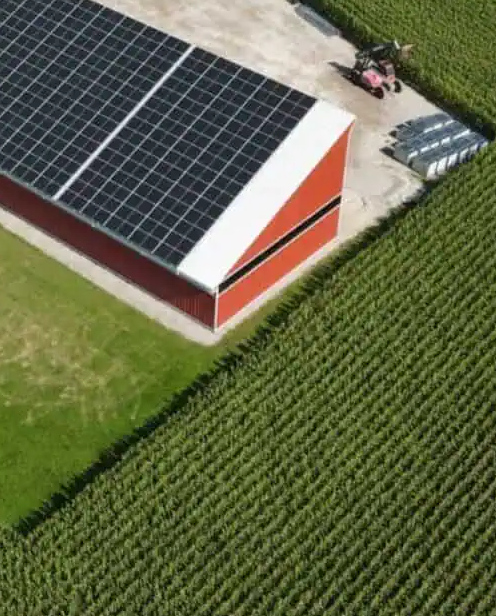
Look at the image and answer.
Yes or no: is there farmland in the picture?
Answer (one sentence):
Yes, some farmland is visible.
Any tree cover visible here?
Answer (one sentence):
No, tree cover can't be seen anywhere here.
